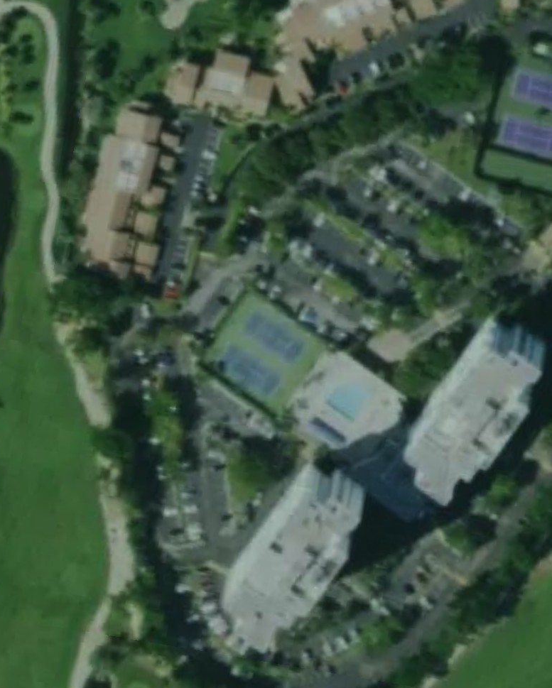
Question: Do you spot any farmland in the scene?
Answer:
No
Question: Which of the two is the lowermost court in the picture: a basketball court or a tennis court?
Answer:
tennis court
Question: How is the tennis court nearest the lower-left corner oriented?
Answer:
at an angle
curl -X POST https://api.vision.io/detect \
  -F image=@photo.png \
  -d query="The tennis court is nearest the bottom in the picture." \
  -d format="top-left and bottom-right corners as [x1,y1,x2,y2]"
[213,342,284,401]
